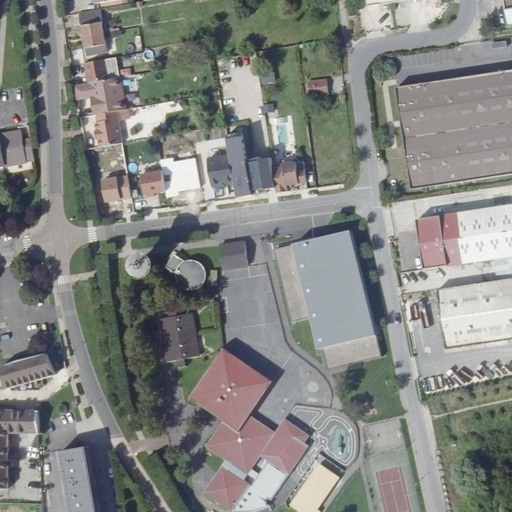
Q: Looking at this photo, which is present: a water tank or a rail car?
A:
water tank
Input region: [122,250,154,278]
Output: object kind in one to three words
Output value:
water tower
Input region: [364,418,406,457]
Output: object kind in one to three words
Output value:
basketball court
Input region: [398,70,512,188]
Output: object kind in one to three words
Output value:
warehouse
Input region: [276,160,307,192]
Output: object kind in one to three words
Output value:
house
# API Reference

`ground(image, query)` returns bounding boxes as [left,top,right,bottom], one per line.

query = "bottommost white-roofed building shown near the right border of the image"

[438,278,512,347]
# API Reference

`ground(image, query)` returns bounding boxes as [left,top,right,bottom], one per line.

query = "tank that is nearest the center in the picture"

[166,242,206,289]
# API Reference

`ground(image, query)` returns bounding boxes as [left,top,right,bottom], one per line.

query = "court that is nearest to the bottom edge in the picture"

[369,448,423,512]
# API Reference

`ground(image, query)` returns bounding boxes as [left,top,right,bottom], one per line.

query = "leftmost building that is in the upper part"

[0,130,34,172]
